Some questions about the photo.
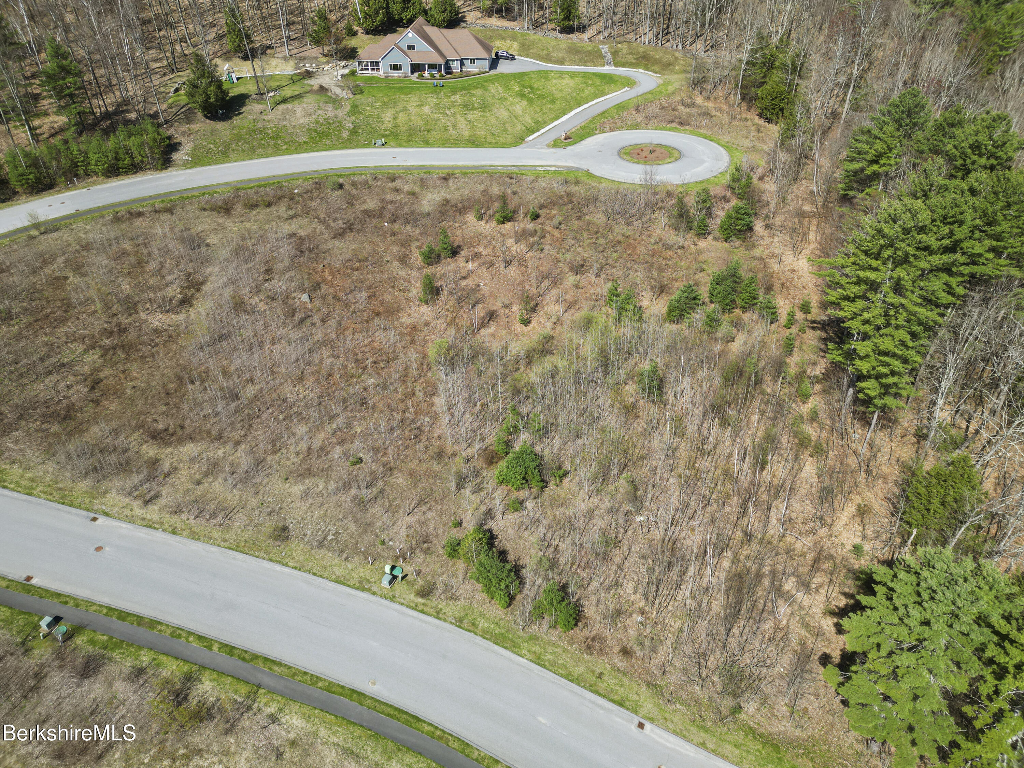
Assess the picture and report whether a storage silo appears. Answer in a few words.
No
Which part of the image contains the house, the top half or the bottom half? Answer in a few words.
top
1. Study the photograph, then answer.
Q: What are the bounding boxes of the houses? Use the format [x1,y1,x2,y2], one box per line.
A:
[352,18,494,78]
